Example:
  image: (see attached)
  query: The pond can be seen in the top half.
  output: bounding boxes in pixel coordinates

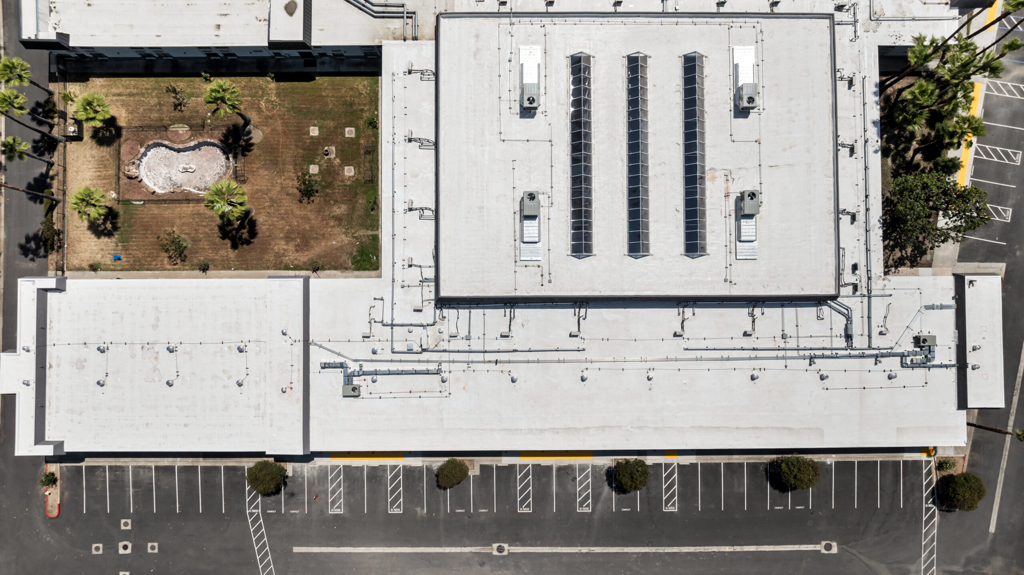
[135,138,233,196]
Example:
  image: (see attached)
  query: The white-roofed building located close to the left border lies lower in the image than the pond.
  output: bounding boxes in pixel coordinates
[0,277,311,455]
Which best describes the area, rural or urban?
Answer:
urban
